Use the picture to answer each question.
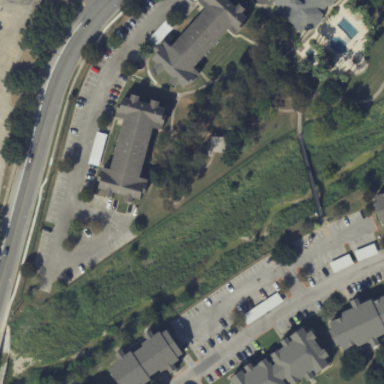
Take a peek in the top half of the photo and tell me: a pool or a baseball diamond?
pool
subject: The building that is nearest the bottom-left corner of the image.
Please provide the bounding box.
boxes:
[112,330,186,384]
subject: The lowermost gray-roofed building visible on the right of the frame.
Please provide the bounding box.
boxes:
[230,326,334,384]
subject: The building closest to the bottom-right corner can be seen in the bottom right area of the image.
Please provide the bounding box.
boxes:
[330,298,384,354]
